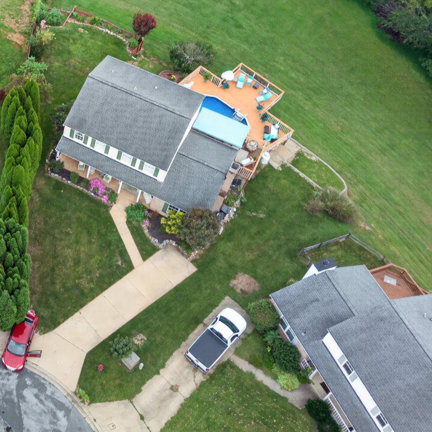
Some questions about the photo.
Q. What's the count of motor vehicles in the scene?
two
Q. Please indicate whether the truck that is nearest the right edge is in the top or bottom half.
bottom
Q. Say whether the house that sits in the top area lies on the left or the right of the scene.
left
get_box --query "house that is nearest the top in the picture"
[55,55,239,231]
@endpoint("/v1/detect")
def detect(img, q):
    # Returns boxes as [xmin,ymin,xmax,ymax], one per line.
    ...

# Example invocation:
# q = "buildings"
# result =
[55,55,239,231]
[272,252,432,432]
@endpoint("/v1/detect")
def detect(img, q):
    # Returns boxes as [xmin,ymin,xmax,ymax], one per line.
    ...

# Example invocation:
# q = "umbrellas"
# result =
[220,73,236,92]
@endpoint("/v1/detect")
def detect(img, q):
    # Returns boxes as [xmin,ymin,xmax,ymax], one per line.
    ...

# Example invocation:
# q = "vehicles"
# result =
[182,307,247,375]
[4,307,46,376]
